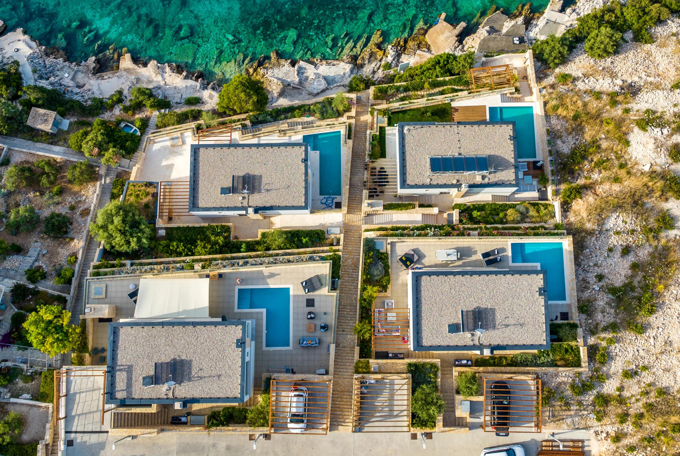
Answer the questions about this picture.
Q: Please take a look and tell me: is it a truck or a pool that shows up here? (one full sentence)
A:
The one in the frame is a pool.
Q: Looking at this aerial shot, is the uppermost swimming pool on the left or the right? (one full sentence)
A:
You can find the uppermost swimming pool on the right side of the picture.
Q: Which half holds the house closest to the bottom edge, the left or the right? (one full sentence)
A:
The house closest to the bottom edge sits on the left side.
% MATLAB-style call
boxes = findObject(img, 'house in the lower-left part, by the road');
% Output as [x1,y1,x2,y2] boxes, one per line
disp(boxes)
[106,318,259,410]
